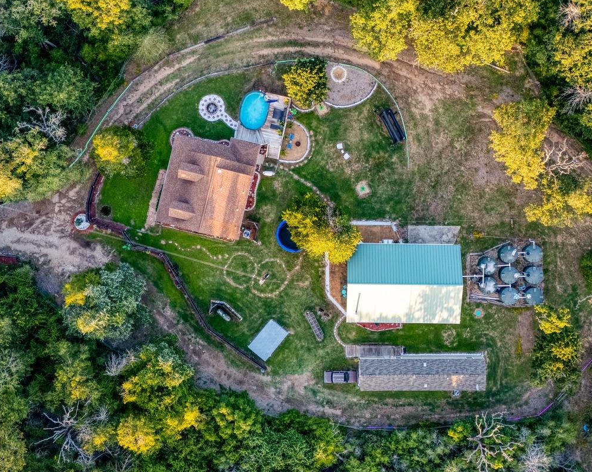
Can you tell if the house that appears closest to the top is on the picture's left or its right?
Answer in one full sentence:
The house that appears closest to the top appears in the left half of the scene.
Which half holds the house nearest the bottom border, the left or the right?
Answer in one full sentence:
The house nearest the bottom border appears in the right half of the scene.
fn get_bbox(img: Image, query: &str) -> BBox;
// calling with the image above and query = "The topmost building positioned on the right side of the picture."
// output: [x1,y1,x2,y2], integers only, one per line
[346,243,463,324]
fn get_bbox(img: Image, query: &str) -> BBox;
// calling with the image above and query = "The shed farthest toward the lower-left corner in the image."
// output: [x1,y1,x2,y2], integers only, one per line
[249,318,289,360]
